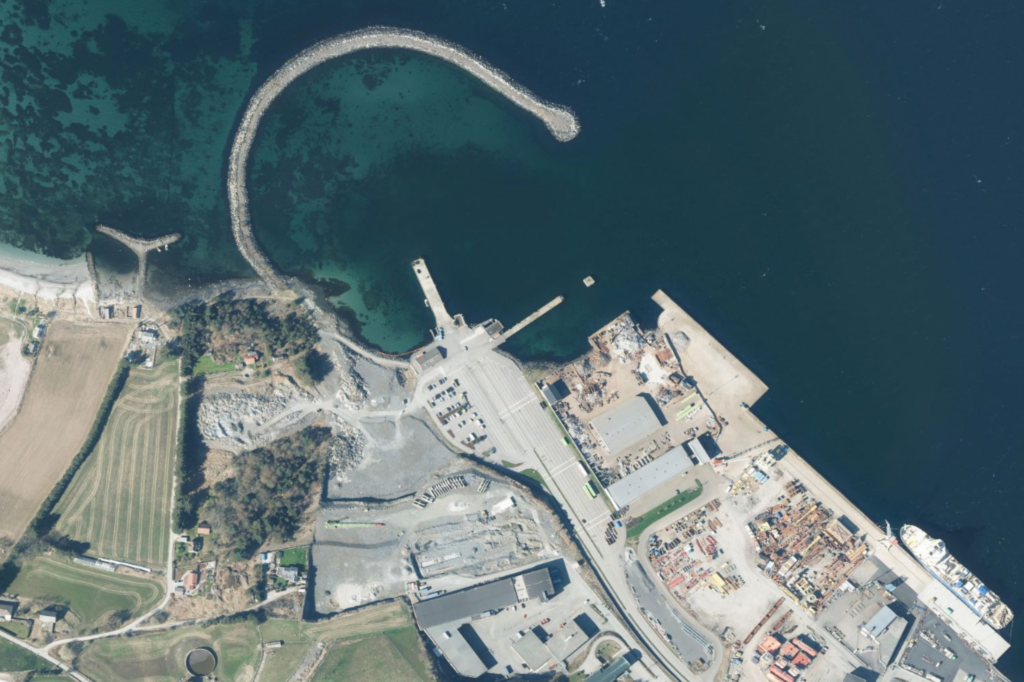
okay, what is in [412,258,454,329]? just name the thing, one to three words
pier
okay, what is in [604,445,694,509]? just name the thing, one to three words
building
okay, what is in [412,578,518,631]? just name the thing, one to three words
building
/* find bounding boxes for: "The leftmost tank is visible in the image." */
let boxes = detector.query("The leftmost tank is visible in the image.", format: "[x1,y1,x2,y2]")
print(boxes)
[186,648,216,682]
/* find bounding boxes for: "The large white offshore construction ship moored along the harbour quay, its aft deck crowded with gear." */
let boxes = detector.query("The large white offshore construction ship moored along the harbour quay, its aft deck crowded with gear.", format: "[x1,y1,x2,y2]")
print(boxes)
[882,524,1014,644]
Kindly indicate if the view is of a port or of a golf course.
port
